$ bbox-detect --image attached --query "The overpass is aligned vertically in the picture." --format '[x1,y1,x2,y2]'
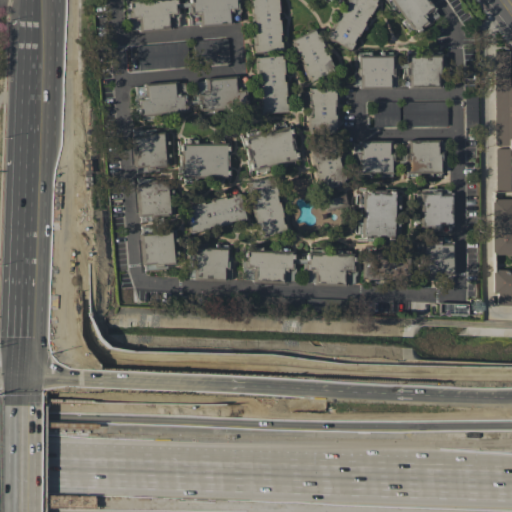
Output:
[0,391,48,512]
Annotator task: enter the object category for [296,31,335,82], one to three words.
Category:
building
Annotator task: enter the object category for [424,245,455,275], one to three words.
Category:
building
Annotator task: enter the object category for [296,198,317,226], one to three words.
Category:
swimming pool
